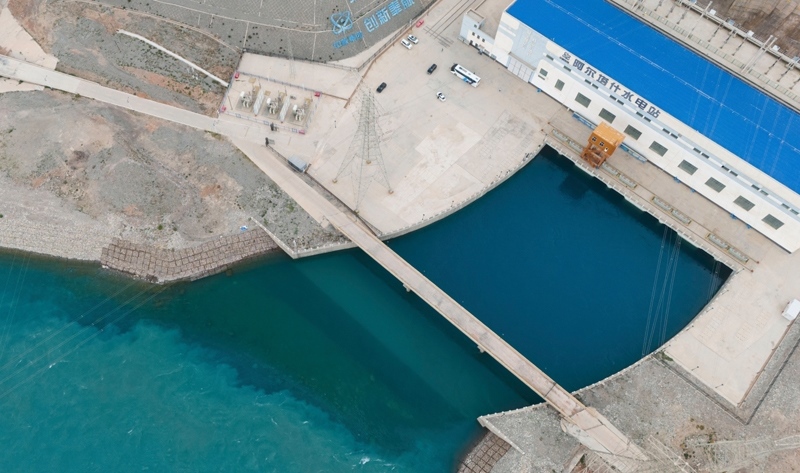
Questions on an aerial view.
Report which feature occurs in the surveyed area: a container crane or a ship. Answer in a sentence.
I can see a container crane in this picture.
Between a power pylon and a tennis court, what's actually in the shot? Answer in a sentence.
It is a power pylon that can be seen here.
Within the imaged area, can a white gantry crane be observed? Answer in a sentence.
No, there's no white gantry crane here.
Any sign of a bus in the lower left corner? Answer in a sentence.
No, no bus can be made out in the lower left corner.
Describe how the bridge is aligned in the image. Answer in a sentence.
Seen from above, the bridge lies diagonally.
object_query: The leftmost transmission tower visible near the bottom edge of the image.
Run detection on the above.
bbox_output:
[578,428,701,473]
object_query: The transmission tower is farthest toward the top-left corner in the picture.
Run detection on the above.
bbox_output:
[330,85,395,213]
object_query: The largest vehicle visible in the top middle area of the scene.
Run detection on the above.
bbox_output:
[450,62,484,87]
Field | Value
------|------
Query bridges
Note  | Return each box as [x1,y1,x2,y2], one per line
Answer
[332,213,590,425]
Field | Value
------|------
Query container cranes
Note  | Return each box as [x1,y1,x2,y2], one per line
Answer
[578,121,626,171]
